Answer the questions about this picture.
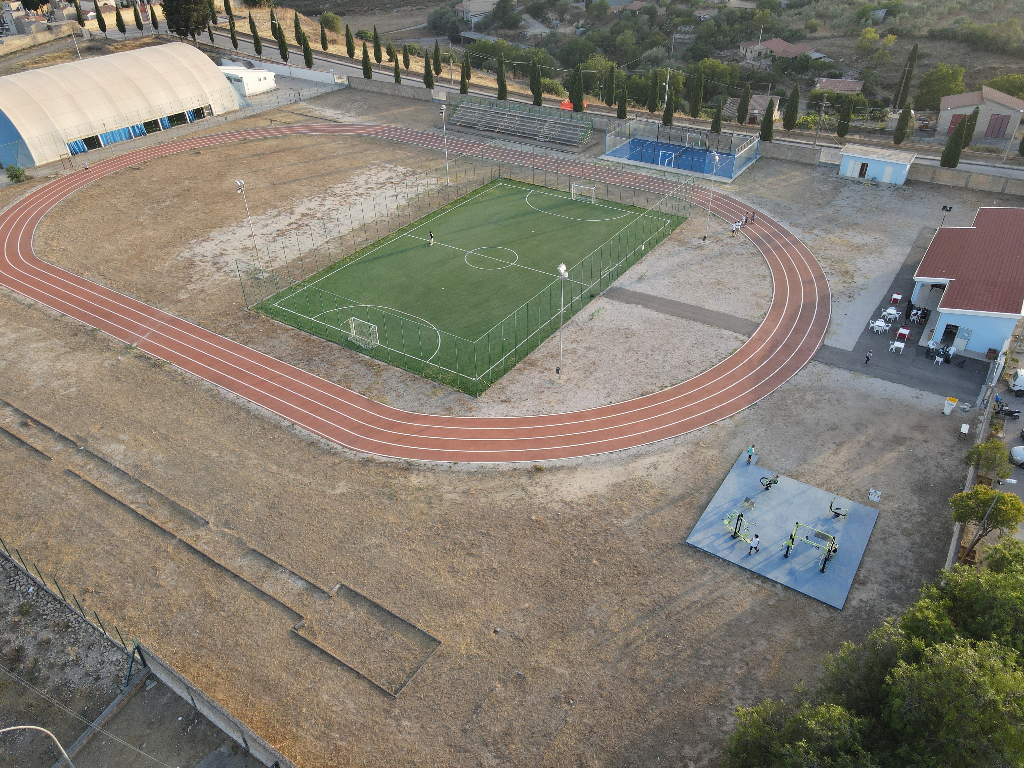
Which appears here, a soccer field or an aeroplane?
soccer field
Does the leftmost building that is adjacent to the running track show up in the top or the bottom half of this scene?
top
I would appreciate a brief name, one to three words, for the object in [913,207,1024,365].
building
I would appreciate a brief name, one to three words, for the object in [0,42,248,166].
building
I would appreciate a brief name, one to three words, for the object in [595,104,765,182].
sports court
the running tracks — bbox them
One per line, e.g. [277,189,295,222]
[0,124,834,465]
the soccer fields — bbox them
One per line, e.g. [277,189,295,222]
[251,178,687,394]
